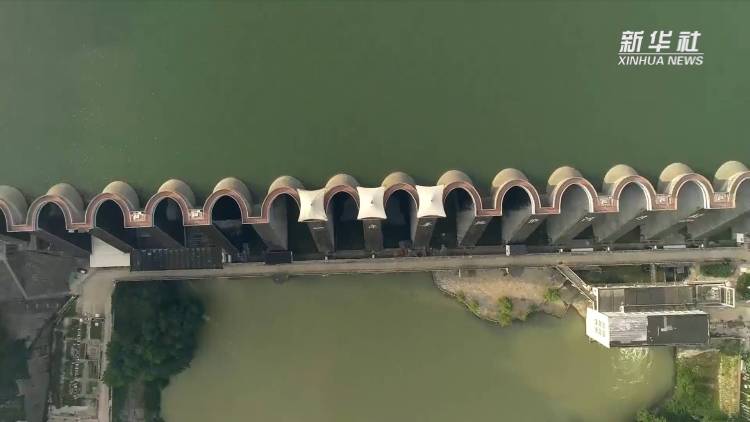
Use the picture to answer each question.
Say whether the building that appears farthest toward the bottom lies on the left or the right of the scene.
right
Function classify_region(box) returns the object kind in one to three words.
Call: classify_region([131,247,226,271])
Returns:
shed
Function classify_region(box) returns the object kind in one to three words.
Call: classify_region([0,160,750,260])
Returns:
dam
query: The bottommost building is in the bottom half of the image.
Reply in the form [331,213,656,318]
[588,306,711,349]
